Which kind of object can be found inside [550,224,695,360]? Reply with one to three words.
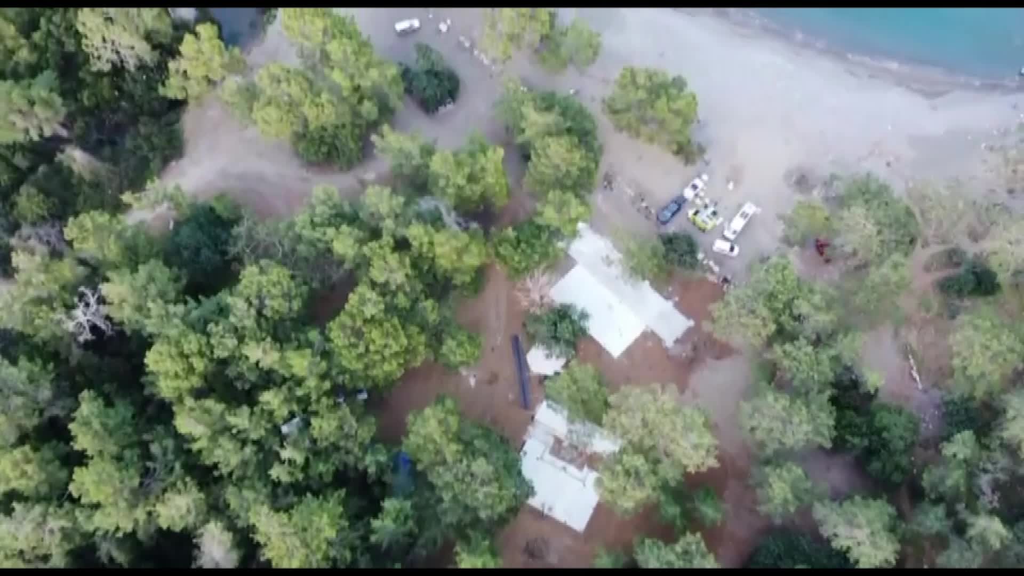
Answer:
building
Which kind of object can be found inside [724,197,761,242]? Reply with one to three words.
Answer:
van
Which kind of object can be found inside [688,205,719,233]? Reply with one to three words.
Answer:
car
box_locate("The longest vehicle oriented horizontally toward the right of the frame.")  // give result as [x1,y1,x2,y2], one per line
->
[712,239,742,255]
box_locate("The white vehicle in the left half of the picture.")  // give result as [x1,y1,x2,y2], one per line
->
[392,16,422,33]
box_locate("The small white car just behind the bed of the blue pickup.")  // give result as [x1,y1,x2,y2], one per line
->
[682,174,710,199]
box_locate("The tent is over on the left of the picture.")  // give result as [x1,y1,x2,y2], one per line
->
[282,408,313,434]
